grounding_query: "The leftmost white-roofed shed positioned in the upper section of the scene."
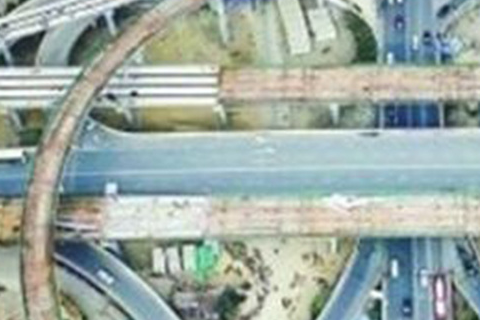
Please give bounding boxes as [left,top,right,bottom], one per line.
[279,0,310,61]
